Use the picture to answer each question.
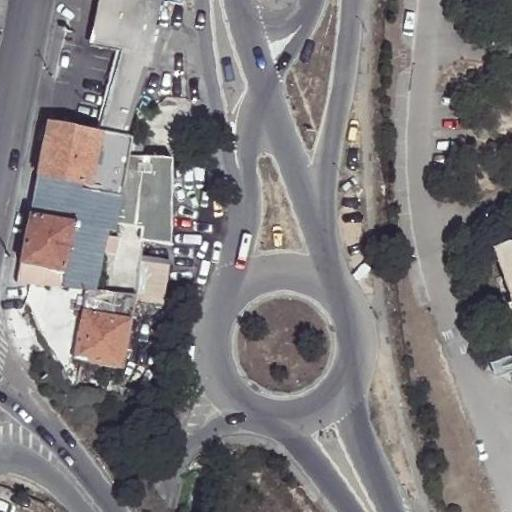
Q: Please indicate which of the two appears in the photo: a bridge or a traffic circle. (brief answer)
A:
traffic circle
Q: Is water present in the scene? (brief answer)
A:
No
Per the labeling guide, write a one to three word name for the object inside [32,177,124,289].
building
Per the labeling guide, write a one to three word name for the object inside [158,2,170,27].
vehicle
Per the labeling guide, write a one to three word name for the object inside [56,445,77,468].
car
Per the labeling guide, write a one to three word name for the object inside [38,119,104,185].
house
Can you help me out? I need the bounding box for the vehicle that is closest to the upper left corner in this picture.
[56,2,76,21]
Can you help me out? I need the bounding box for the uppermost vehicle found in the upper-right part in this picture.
[402,10,414,36]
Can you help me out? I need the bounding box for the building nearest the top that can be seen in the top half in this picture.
[90,0,154,130]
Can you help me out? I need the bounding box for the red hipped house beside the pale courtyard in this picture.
[73,308,136,370]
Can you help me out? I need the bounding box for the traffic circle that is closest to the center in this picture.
[232,290,338,400]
